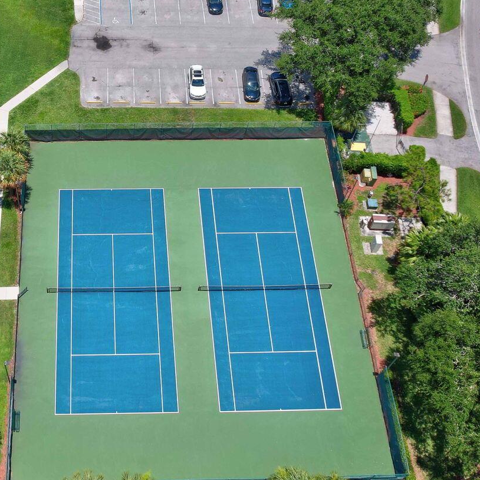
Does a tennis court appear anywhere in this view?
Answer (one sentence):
Yes, a tennis court is visible in the scene.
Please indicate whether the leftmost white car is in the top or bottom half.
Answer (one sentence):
It is in the top half that the leftmost white car appears.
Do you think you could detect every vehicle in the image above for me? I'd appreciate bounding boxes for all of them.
[282,0,298,9]
[189,65,210,100]
[258,0,277,17]
[242,66,265,101]
[208,0,225,13]
[271,72,295,106]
